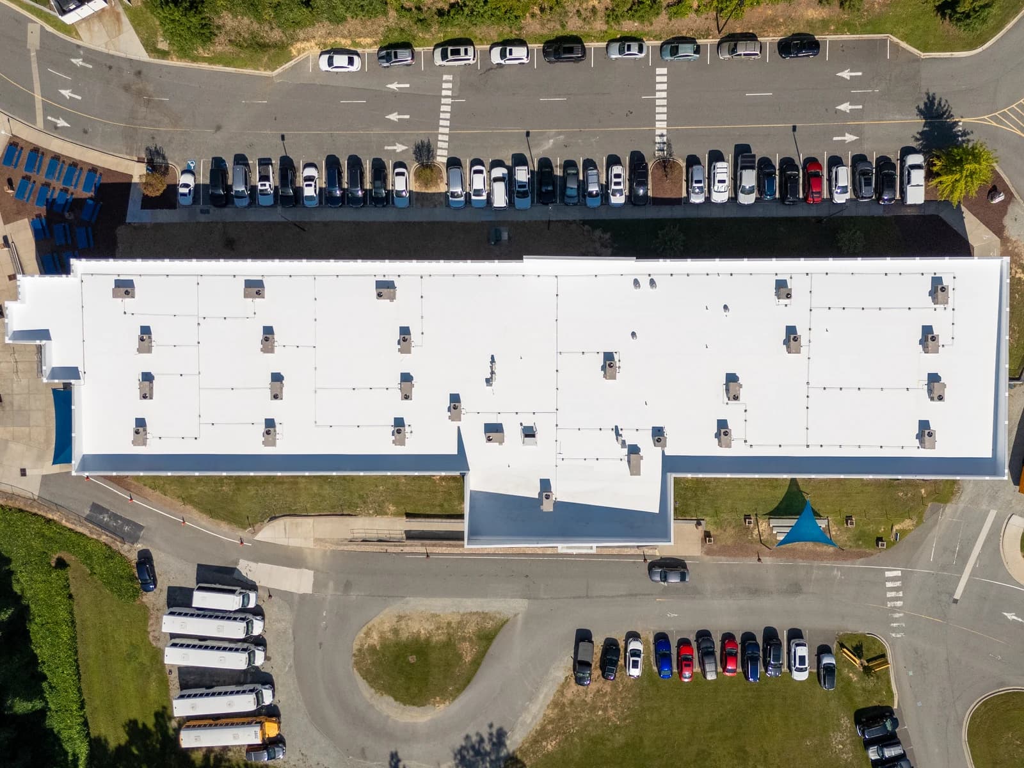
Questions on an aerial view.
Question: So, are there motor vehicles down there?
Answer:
Yes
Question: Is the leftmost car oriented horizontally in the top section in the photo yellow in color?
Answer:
No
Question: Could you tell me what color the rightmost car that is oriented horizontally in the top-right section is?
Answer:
black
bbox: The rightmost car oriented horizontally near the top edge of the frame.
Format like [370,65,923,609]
[777,38,820,59]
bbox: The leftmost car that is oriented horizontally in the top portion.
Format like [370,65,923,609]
[320,52,361,72]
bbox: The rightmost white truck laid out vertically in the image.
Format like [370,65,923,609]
[904,153,926,205]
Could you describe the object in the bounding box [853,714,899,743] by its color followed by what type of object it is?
black car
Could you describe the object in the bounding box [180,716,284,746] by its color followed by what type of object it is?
white bus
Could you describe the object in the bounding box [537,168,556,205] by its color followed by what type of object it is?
black car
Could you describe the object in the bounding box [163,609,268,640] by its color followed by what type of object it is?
white bus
